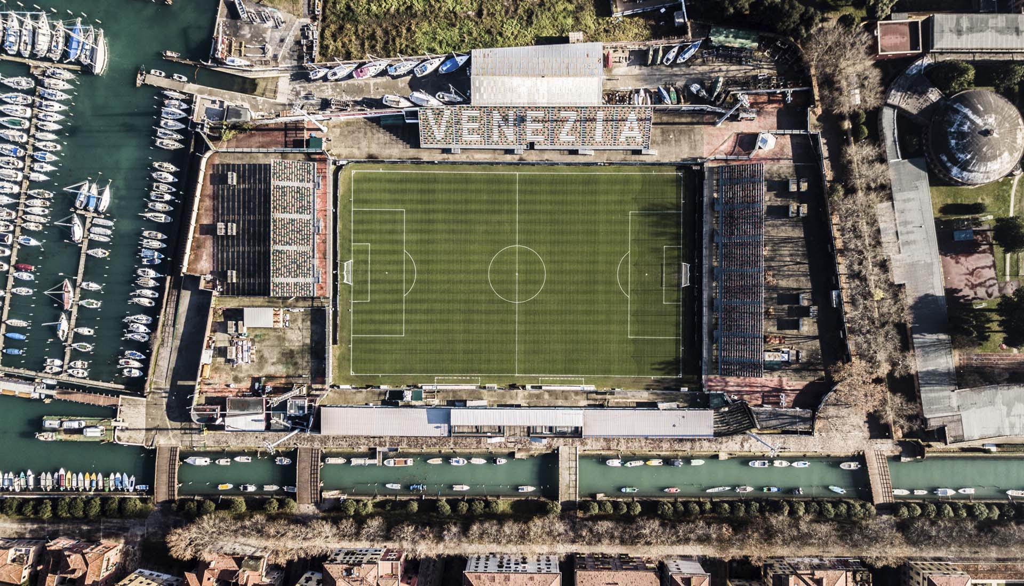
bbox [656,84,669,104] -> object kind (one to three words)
boat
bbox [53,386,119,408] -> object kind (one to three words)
pier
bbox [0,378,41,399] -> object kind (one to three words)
ship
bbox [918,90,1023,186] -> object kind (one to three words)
building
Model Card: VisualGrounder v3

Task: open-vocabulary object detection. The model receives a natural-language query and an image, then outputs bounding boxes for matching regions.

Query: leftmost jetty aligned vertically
[0,73,40,378]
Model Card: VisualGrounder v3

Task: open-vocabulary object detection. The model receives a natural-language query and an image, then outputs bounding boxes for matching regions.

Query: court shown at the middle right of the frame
[940,225,998,304]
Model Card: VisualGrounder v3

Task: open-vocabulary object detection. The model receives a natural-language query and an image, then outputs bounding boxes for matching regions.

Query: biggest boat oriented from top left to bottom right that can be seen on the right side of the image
[688,83,711,102]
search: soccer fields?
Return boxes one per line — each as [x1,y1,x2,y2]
[333,163,702,388]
